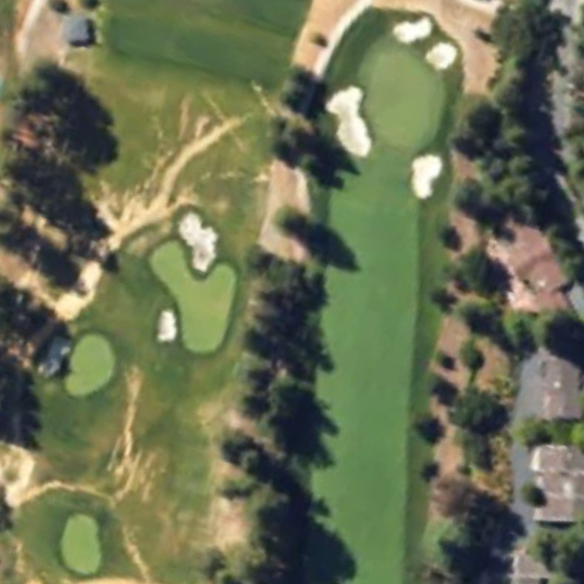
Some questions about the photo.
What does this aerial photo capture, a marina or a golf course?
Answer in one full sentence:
This looks like a golf course.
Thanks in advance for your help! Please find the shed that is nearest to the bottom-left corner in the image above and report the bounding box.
[39,336,70,376]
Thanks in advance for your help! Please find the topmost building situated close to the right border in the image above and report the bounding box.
[494,225,576,313]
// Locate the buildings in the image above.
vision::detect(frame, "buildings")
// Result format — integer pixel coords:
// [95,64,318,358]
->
[531,446,584,523]
[512,547,546,584]
[494,225,576,313]
[533,350,584,420]
[65,15,93,43]
[39,336,70,376]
